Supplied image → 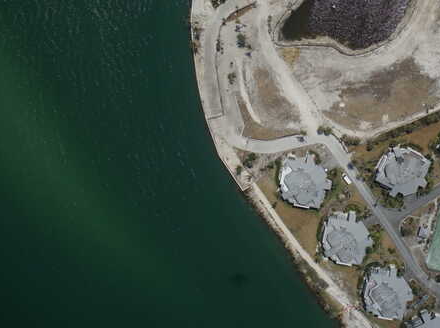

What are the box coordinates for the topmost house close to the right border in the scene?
[375,147,431,197]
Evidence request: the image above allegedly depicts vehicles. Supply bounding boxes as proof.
[341,173,352,184]
[419,296,427,303]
